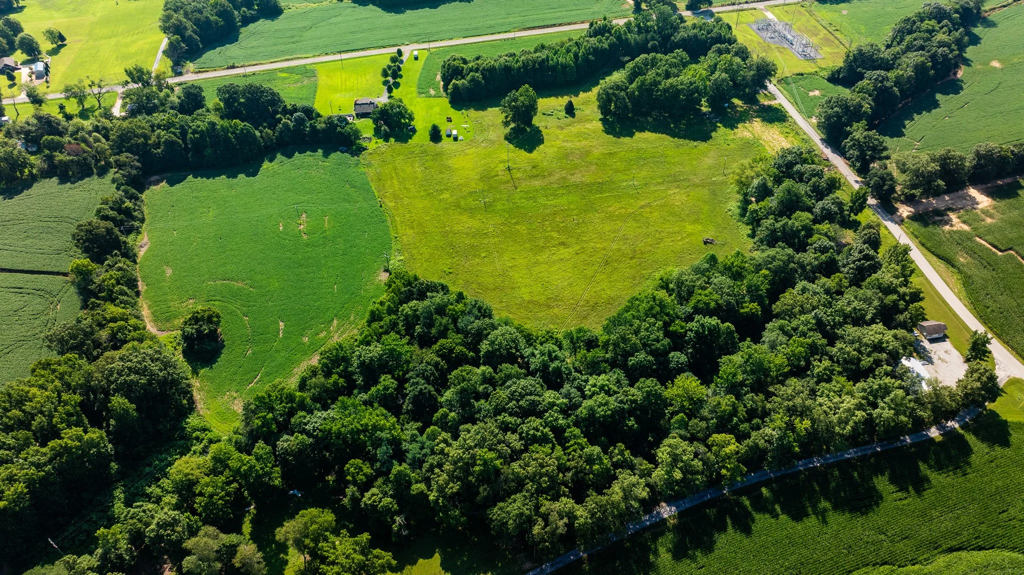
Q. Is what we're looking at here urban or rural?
rural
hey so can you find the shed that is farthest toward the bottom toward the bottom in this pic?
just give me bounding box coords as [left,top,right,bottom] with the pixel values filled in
[902,352,936,395]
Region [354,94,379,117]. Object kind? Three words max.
house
